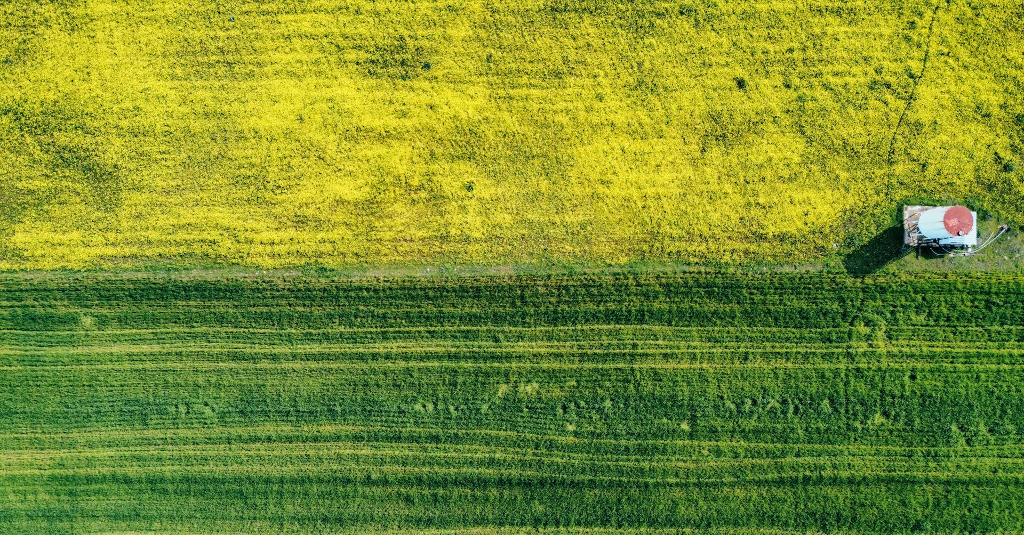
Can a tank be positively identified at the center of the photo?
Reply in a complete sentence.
No, at the center of the photo there is no tank.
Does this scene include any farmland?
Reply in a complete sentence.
Yes, farmland shows up in the scene.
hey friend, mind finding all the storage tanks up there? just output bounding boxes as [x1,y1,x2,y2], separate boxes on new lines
[905,205,973,243]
